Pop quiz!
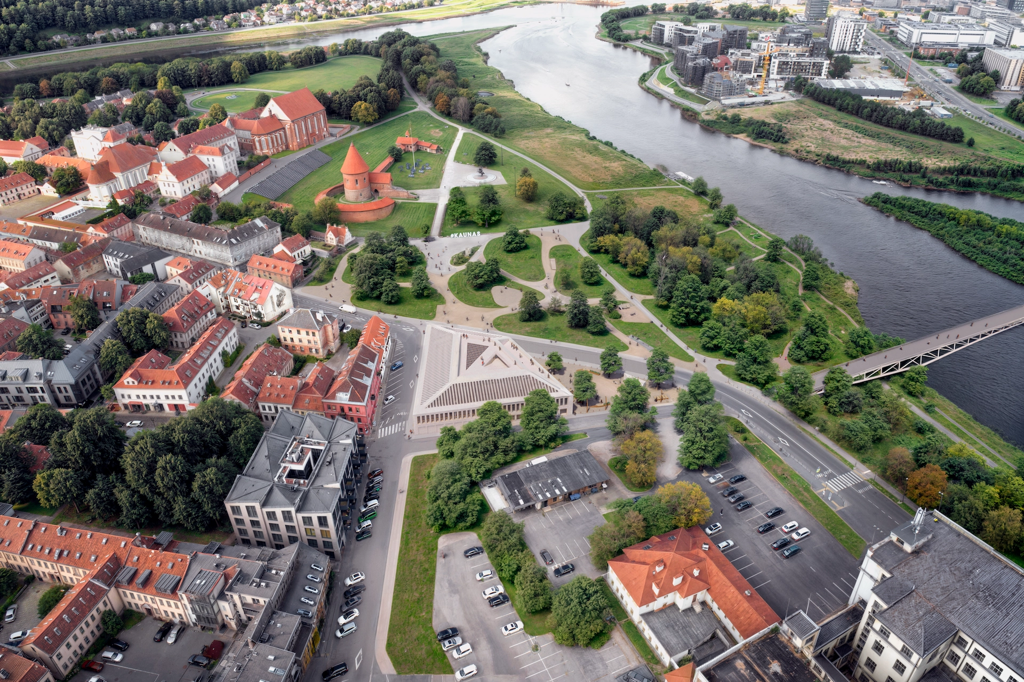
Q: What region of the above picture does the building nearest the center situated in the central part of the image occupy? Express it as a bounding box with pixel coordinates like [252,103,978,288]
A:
[413,323,574,432]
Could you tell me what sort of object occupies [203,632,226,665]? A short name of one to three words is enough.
vehicle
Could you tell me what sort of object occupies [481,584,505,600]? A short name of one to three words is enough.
car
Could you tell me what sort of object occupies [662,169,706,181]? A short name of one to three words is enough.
boat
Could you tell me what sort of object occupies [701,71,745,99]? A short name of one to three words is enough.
building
